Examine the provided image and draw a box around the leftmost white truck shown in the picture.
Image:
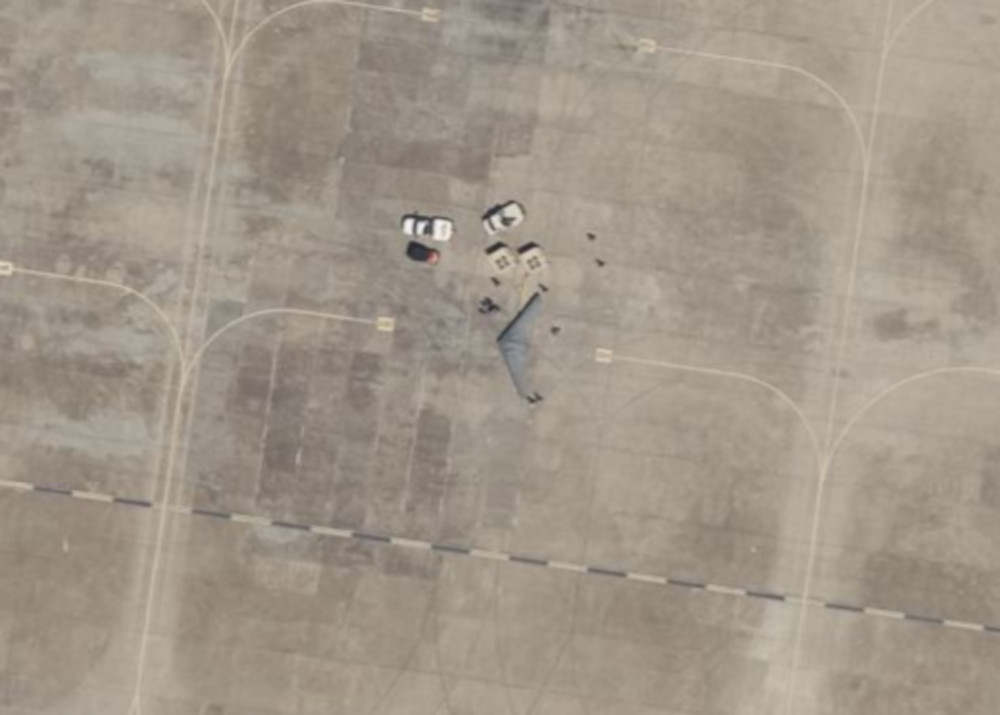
[401,217,452,240]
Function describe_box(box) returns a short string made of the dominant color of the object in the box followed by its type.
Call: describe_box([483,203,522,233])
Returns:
white truck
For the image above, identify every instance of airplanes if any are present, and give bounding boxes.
[498,293,545,400]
